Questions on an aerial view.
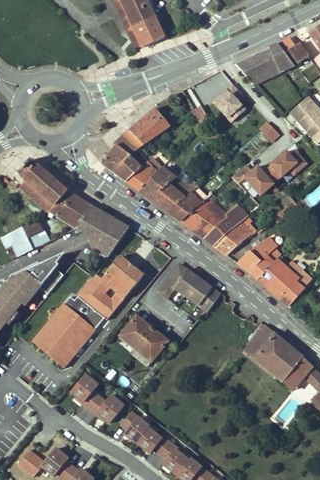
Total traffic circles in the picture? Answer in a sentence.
In total, 1 traffic circle can be seen.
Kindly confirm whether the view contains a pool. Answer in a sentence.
Yes, this view includes a pool.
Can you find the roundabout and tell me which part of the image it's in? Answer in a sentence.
The roundabout is in the top left part of the image.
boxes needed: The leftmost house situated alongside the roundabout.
[20,162,68,212]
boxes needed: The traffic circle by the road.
[10,70,96,154]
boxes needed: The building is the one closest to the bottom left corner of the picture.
[14,451,45,480]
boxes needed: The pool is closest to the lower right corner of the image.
[270,384,318,428]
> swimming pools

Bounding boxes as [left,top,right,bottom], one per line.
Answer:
[118,376,132,386]
[270,384,318,428]
[304,184,320,208]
